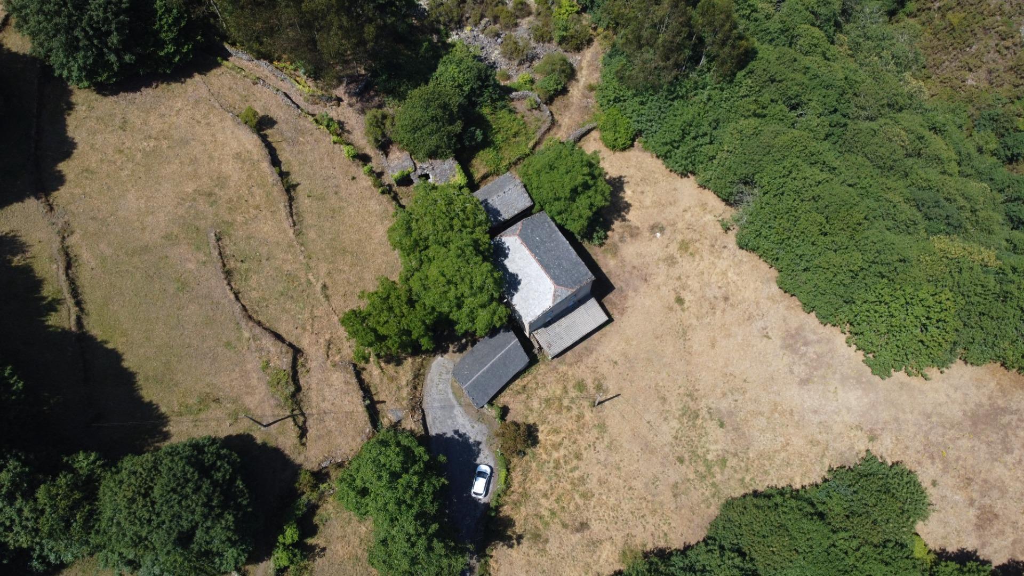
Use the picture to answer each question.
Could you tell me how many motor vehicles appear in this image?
1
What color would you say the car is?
white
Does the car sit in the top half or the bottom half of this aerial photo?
bottom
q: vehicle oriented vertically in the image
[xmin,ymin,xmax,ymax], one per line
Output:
[471,464,491,499]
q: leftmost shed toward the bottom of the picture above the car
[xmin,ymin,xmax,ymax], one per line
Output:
[452,326,529,410]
